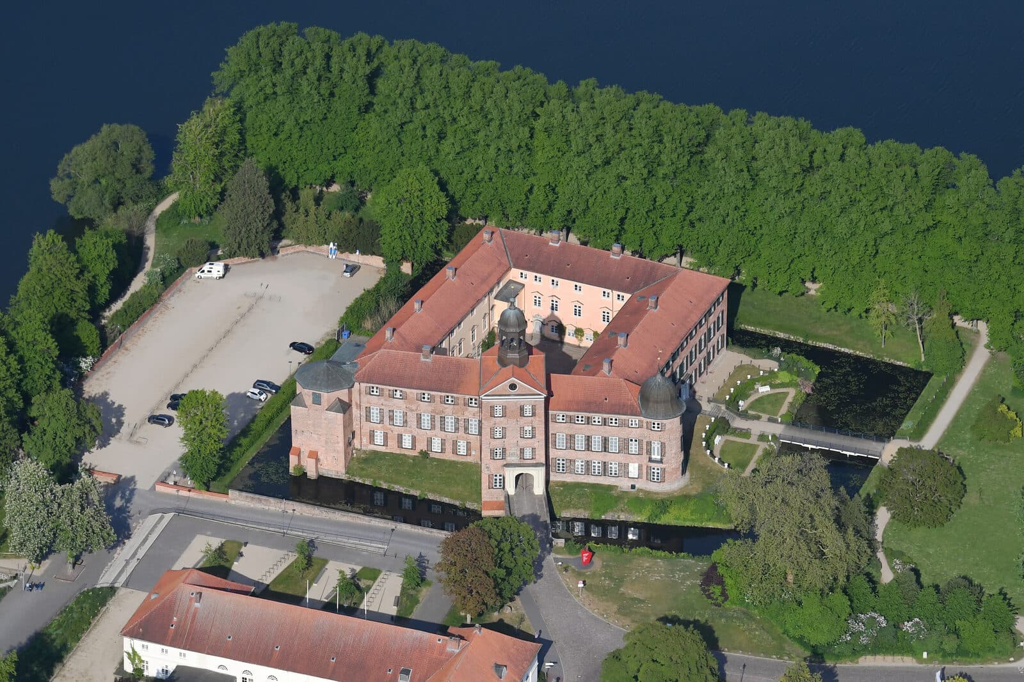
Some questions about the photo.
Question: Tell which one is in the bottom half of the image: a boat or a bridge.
bridge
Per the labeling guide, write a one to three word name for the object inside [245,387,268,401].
car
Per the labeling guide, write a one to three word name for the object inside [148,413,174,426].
vehicle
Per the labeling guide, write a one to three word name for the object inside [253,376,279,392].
car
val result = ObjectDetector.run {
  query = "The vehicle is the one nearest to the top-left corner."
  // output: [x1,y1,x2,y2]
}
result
[197,262,227,279]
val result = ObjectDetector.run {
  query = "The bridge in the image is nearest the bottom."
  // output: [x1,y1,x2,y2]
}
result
[506,491,552,559]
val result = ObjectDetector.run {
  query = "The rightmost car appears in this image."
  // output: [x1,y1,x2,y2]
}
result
[341,260,361,276]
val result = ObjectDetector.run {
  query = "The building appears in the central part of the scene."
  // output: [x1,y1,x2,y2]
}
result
[289,226,731,510]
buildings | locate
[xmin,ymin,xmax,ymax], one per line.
[289,226,731,510]
[120,567,546,682]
